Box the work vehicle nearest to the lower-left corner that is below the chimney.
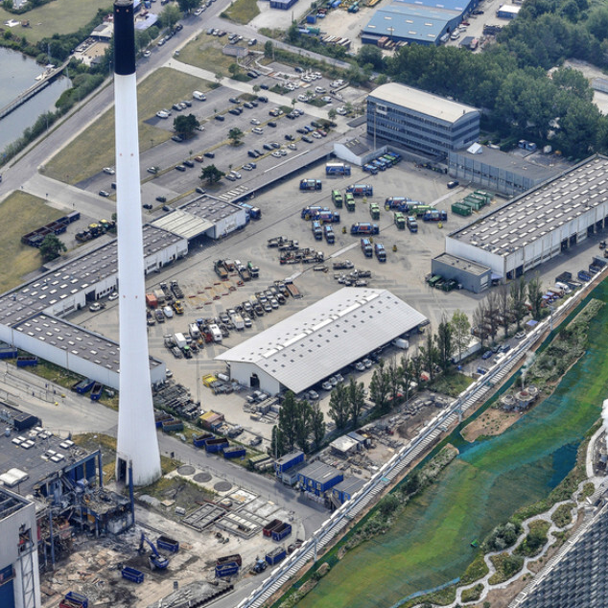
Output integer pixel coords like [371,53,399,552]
[142,525,170,569]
